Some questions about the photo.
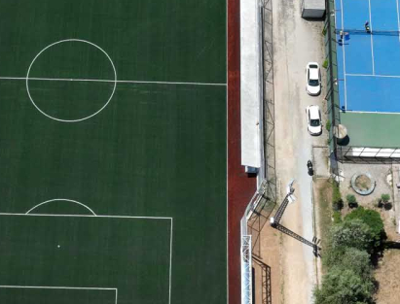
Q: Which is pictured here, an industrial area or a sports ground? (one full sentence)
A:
What you see here is a sports ground.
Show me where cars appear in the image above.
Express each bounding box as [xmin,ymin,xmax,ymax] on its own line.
[305,65,321,96]
[307,106,323,137]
